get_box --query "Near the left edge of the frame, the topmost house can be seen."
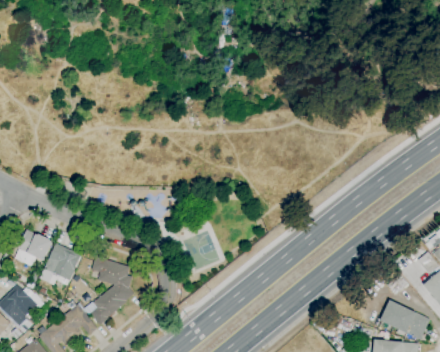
[20,230,50,262]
